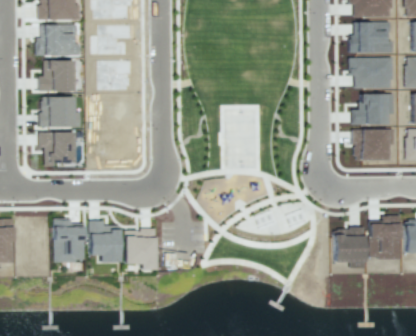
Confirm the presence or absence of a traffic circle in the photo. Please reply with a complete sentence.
No, there's no traffic circle here.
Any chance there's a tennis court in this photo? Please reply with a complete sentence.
No, no tennis court is visible in the view.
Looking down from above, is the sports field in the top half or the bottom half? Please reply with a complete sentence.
The top half of the photo is where the sports field is.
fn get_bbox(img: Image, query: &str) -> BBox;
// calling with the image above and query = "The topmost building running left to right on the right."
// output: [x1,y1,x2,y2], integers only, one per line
[352,0,394,18]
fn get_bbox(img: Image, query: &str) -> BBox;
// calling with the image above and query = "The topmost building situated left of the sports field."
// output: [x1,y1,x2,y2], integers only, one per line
[38,0,80,19]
